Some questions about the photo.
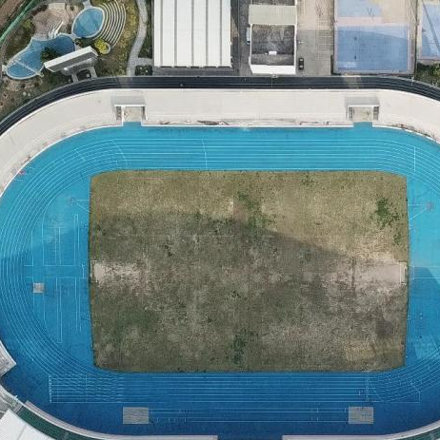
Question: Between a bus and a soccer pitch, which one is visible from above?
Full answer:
I can see a soccer pitch in this picture.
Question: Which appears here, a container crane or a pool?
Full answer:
There is a pool in the scene.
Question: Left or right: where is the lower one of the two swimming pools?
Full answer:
The lower one of the two swimming pools appears in the left half of the scene.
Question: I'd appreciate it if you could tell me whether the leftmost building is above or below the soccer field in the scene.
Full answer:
Within the scene, the leftmost building can be found above the soccer field.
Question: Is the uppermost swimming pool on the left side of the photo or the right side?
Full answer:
It is on the left.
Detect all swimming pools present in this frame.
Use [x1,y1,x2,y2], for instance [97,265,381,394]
[71,6,106,38]
[2,33,78,80]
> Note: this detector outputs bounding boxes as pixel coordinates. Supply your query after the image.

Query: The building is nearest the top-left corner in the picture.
[153,0,236,73]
